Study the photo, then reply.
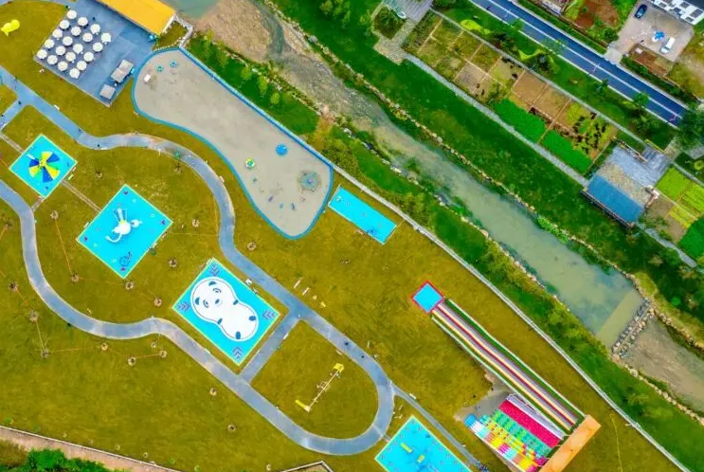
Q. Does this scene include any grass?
Yes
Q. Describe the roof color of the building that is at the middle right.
blue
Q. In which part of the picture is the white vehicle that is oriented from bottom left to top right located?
top right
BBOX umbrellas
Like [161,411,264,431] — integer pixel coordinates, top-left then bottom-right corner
[84,52,95,65]
[47,56,58,67]
[73,44,84,57]
[83,33,93,45]
[58,62,69,74]
[66,52,77,65]
[93,43,104,55]
[76,61,87,73]
[69,69,80,81]
[101,33,112,46]
[37,50,48,62]
[78,17,88,30]
[45,40,55,51]
[67,10,78,23]
[56,46,66,58]
[53,29,63,41]
[62,37,73,48]
[90,24,101,36]
[60,20,71,32]
[71,27,82,38]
